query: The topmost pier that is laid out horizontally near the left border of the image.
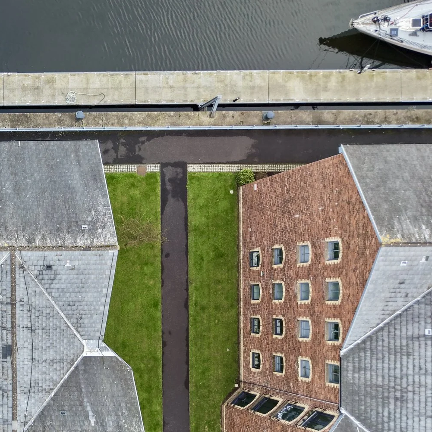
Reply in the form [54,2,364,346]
[2,71,136,105]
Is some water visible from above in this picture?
Yes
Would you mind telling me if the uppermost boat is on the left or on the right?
right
